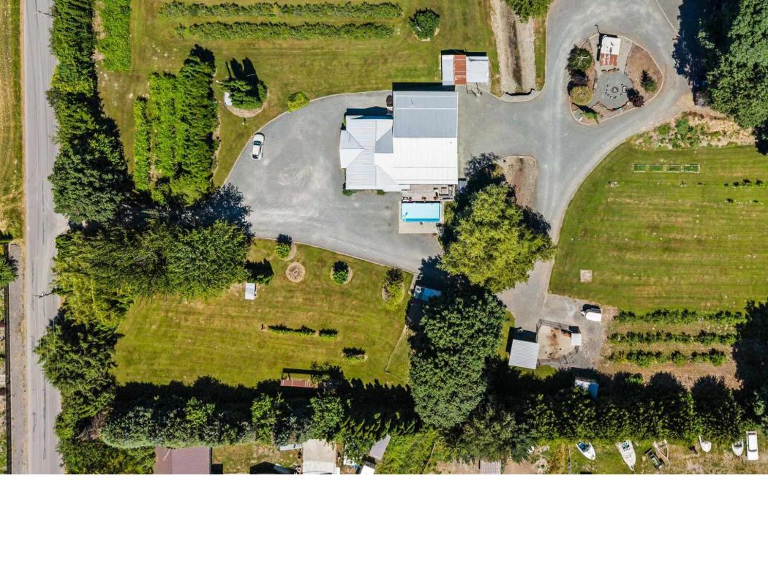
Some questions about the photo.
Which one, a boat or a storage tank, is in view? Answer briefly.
boat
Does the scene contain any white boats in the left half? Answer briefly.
No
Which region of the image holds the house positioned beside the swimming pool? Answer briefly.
top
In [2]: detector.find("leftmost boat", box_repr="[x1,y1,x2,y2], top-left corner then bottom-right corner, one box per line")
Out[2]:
[575,445,593,463]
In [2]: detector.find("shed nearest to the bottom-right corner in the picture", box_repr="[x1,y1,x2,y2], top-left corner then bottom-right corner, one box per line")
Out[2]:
[574,377,599,397]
